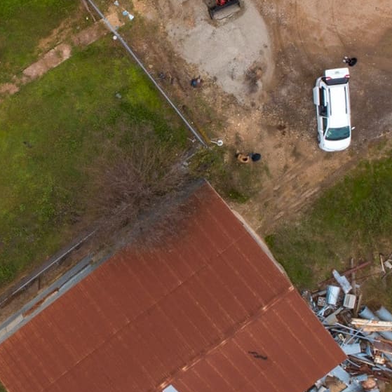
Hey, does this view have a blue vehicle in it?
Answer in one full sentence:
No, I can't see a single blue vehicle in this photo.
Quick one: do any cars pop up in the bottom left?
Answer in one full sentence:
No, I can find no car in the bottom left.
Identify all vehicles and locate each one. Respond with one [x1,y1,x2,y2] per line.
[207,0,241,19]
[316,70,357,153]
